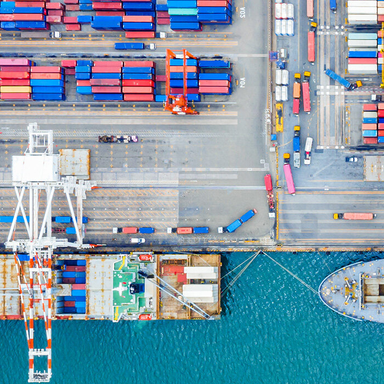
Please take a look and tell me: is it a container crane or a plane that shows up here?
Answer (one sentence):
There is a container crane in the scene.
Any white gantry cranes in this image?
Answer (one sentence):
Yes, the photo shows a white gantry crane.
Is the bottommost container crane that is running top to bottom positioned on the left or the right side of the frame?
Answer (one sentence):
You can find the bottommost container crane that is running top to bottom on the left side of the picture.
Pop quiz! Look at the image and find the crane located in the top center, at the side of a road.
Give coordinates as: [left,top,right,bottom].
[166,47,201,118]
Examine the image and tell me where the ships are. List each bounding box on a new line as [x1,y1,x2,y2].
[318,258,384,324]
[0,255,221,322]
